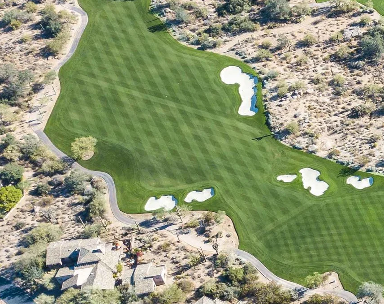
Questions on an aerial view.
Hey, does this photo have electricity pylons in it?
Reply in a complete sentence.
No, the scene contains no electricity pylon.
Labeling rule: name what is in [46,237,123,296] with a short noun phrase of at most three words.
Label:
house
